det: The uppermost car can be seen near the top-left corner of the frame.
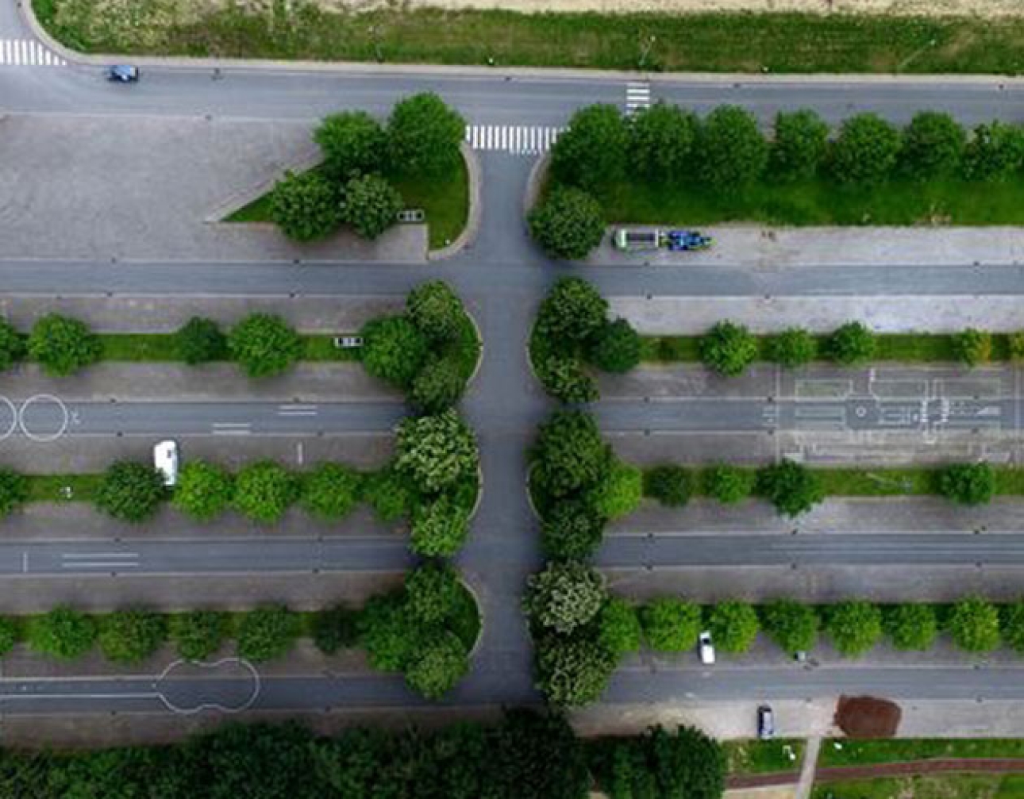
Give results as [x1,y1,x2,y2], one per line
[107,63,136,79]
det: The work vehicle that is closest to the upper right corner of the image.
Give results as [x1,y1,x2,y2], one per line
[665,225,713,250]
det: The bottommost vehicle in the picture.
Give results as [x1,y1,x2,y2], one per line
[757,709,773,739]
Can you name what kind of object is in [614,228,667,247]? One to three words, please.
trailer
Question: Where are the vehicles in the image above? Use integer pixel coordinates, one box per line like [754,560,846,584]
[665,225,713,250]
[697,631,713,663]
[153,443,178,484]
[757,709,773,739]
[107,63,136,79]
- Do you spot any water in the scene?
No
